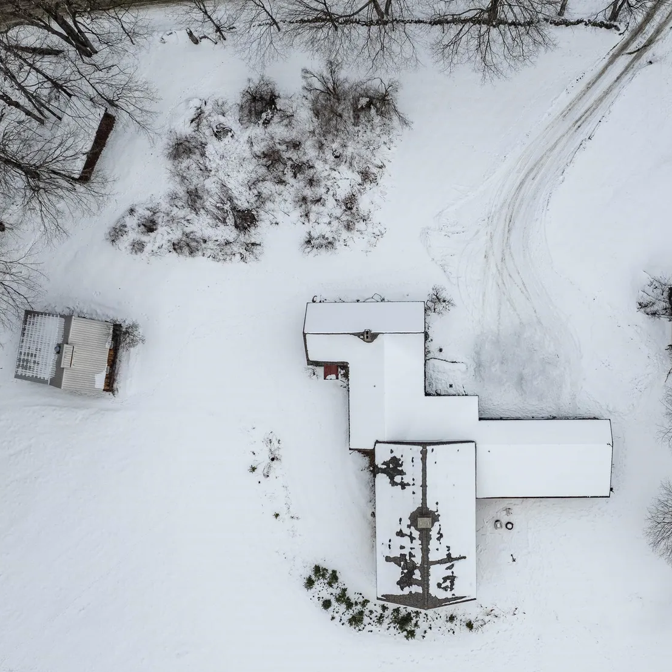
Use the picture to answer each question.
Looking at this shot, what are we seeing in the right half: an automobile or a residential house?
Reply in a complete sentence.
There is a residential house in the right half.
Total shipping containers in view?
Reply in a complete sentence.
The count of shipping containers is 0.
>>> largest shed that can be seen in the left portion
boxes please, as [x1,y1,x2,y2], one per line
[15,309,122,392]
